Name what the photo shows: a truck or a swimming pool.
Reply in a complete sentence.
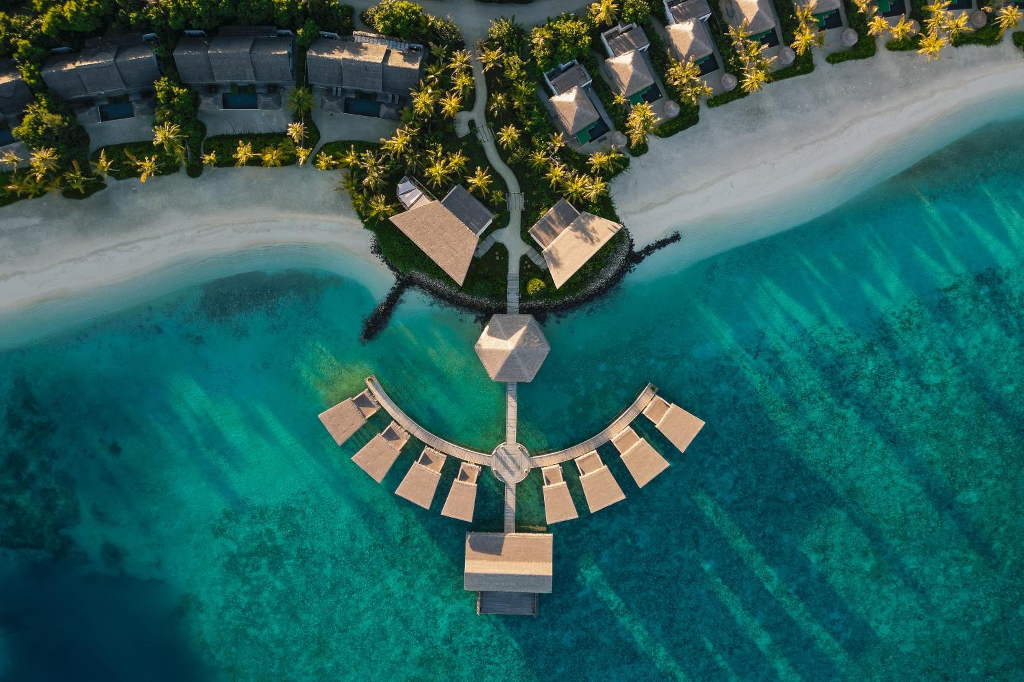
This aerial view contains a swimming pool.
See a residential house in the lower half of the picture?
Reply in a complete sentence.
Yes, a residential house is visible in the lower half of the picture.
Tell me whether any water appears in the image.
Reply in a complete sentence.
Yes, there is water in the image.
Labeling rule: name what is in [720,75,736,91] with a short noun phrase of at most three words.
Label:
umbrella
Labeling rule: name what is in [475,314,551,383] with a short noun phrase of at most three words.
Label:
building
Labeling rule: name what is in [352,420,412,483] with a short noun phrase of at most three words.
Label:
house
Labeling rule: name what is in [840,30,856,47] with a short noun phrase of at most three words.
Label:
umbrella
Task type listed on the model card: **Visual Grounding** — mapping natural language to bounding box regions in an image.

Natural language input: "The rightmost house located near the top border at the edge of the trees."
[307,28,425,101]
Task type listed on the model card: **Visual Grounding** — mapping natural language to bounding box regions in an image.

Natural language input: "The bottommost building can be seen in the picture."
[464,530,553,616]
